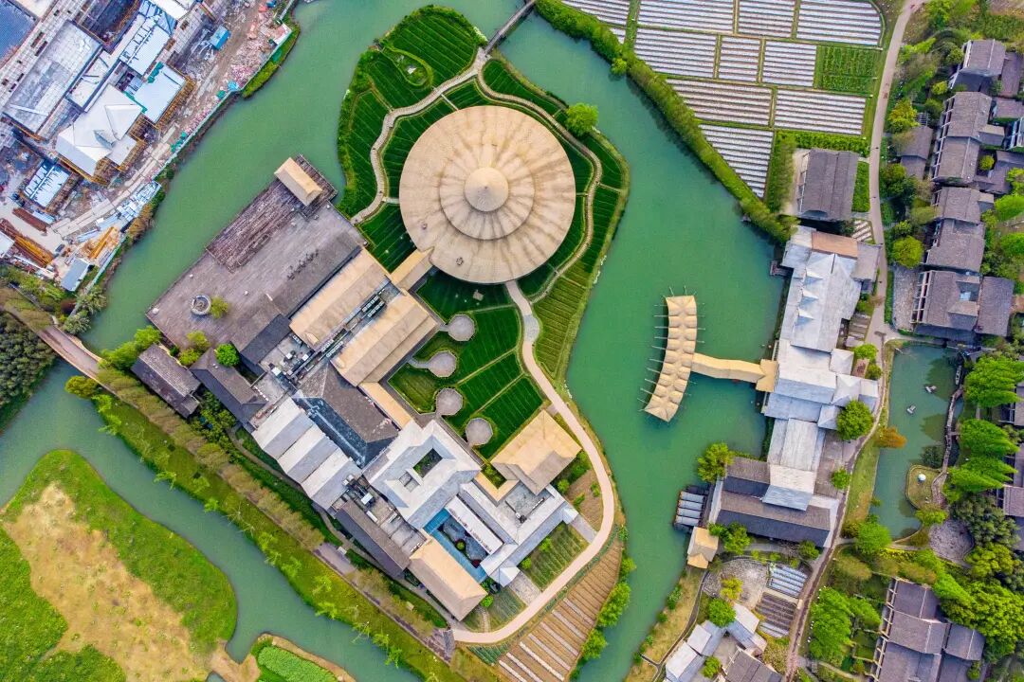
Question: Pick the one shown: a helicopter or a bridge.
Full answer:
Visible in the photo is a bridge.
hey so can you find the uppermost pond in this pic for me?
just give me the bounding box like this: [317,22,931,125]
[870,343,962,538]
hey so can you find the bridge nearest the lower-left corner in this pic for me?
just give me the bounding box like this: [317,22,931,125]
[31,315,115,390]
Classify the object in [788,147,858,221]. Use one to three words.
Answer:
house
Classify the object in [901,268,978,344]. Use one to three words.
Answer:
house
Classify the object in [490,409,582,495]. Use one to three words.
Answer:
building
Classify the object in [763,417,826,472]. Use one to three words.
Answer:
building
